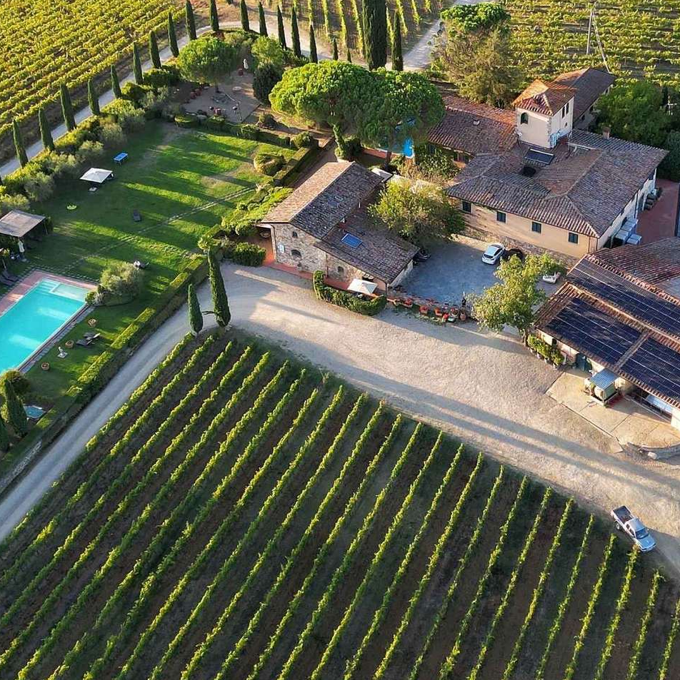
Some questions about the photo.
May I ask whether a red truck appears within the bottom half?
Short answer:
No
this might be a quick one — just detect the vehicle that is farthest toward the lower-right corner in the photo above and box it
[604,505,662,558]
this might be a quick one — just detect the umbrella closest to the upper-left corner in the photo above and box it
[82,170,112,191]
